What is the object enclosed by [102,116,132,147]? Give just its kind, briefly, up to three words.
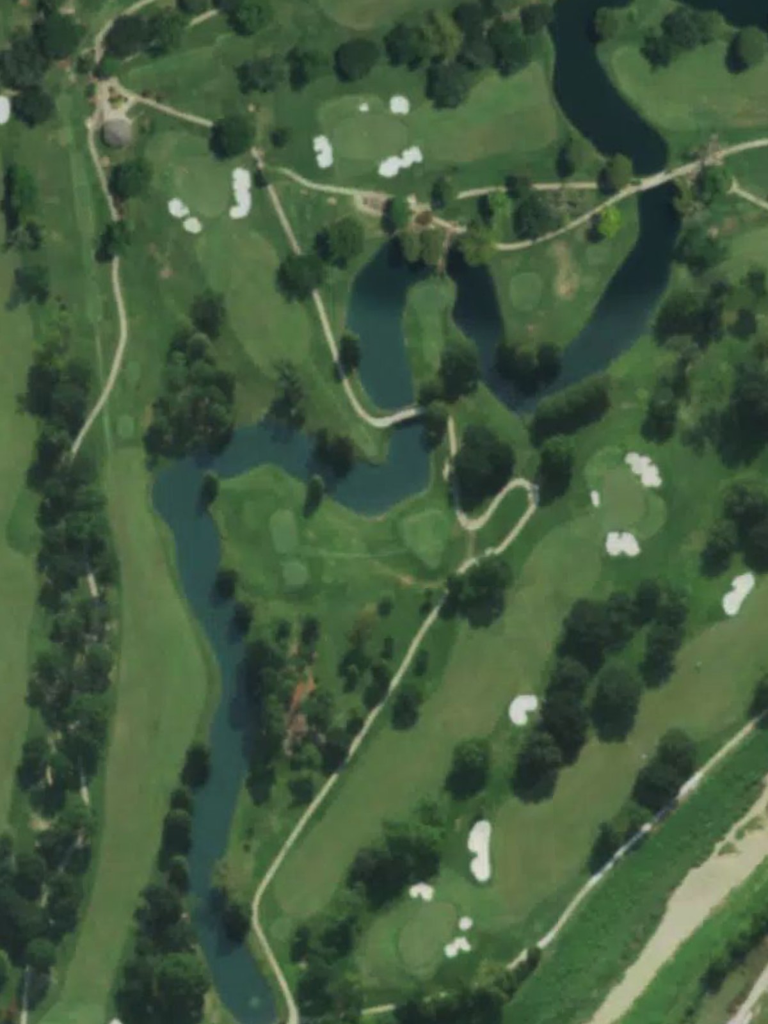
shed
